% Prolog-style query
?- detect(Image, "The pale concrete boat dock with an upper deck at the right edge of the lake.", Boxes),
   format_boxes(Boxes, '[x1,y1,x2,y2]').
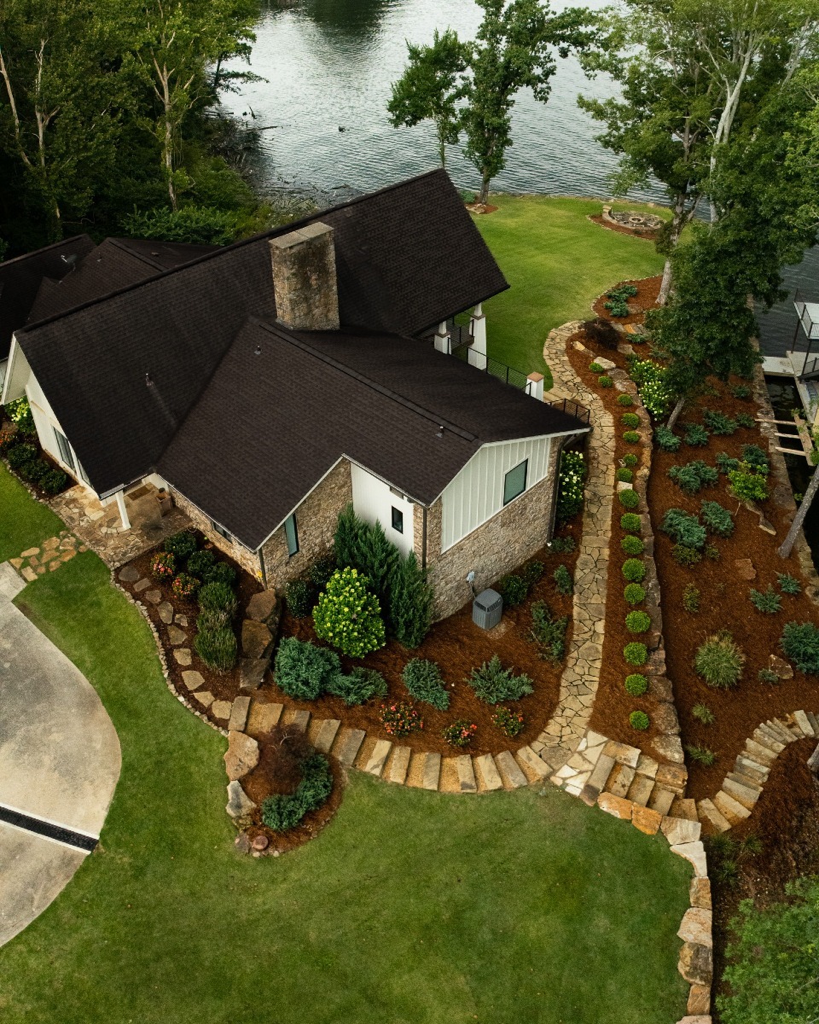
[764,287,819,453]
